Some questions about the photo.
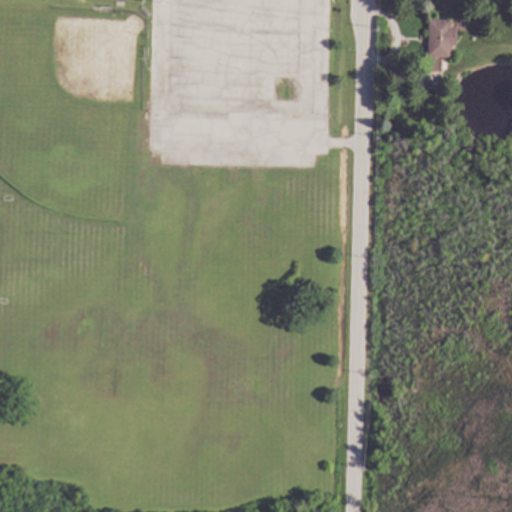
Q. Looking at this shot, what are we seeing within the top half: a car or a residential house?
residential house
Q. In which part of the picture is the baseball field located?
top left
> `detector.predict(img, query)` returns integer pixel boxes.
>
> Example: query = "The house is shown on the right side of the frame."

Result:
[430,19,464,76]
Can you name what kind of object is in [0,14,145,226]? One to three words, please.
baseball field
